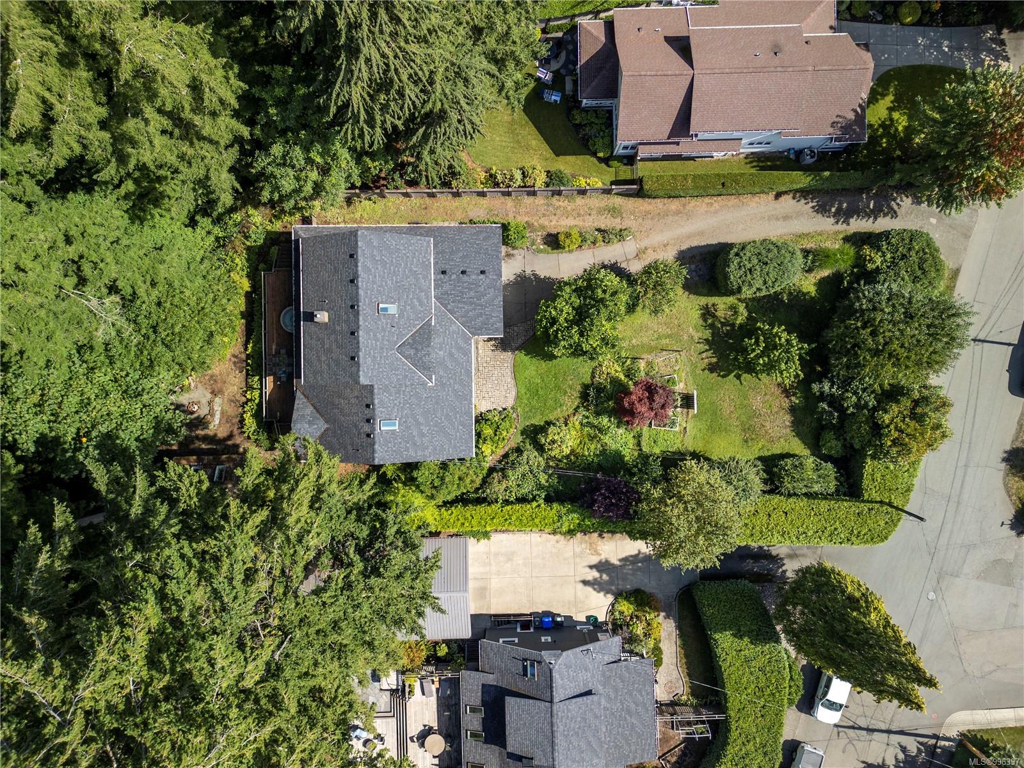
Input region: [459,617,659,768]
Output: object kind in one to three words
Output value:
house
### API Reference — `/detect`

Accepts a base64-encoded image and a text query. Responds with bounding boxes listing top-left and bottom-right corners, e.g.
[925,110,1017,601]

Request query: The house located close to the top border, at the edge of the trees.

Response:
[577,0,874,157]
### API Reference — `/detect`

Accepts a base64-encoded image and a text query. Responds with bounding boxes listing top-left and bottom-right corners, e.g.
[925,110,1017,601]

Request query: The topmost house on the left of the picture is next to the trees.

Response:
[287,224,504,470]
